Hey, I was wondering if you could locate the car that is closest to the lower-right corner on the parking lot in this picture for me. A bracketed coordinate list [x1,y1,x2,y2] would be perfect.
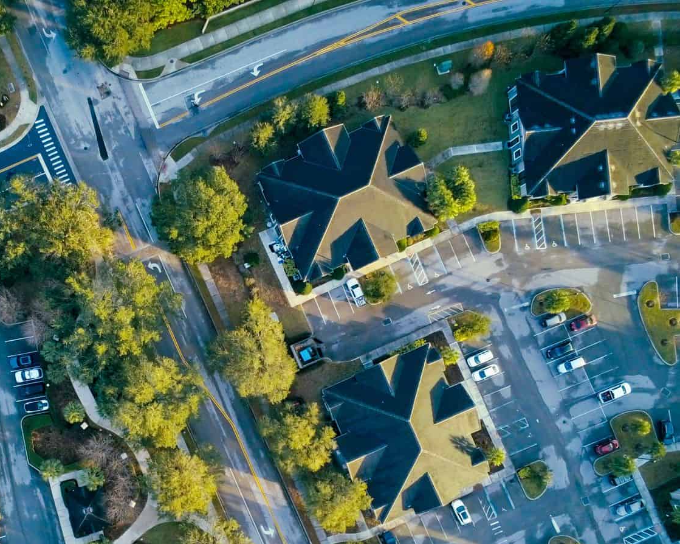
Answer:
[615,498,644,515]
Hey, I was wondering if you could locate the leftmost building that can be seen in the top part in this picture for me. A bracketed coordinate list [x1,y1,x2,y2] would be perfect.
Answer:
[258,115,437,281]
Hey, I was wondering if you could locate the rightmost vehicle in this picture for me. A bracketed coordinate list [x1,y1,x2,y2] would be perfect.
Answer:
[657,419,675,446]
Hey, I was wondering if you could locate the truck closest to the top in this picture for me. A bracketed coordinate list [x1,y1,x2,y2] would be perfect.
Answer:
[345,277,367,310]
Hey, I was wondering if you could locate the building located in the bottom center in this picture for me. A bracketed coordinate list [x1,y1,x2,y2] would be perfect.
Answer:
[322,342,491,524]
